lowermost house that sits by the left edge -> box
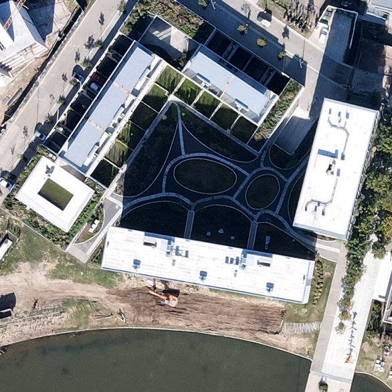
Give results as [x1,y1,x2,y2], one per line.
[15,156,94,232]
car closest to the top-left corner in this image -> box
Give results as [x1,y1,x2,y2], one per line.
[69,71,86,85]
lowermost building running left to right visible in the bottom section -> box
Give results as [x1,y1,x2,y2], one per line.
[100,227,321,304]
